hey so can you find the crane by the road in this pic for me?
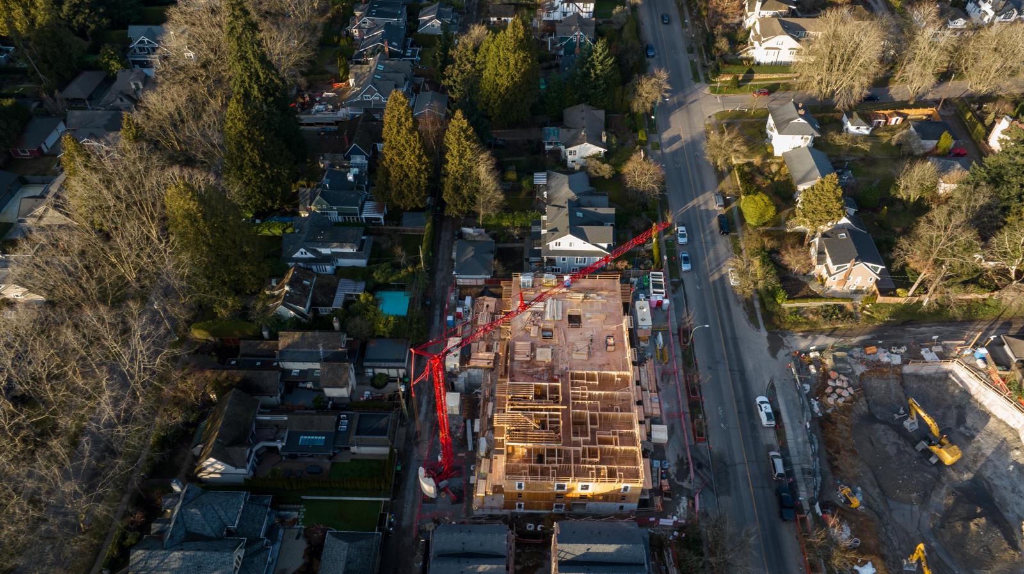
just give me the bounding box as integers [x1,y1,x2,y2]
[407,221,671,507]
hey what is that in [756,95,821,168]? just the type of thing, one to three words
house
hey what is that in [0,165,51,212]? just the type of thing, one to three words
building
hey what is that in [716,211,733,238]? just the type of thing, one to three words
vehicle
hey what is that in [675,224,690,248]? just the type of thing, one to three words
car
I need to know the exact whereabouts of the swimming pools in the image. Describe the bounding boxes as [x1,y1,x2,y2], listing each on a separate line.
[377,287,411,318]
